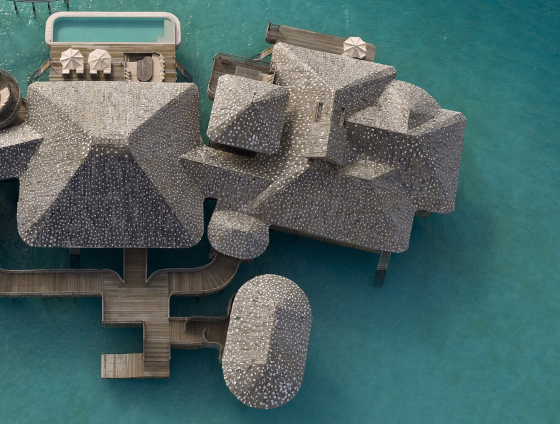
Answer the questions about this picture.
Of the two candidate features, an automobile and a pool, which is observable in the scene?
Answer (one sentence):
Of the two, only a pool appears.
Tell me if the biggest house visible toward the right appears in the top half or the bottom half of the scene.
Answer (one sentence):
The biggest house visible toward the right is in the top half of the image.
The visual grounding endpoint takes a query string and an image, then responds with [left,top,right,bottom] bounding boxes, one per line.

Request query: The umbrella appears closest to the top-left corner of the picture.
[59,47,85,71]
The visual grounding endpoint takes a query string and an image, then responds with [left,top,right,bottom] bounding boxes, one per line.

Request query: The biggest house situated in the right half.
[244,42,468,254]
